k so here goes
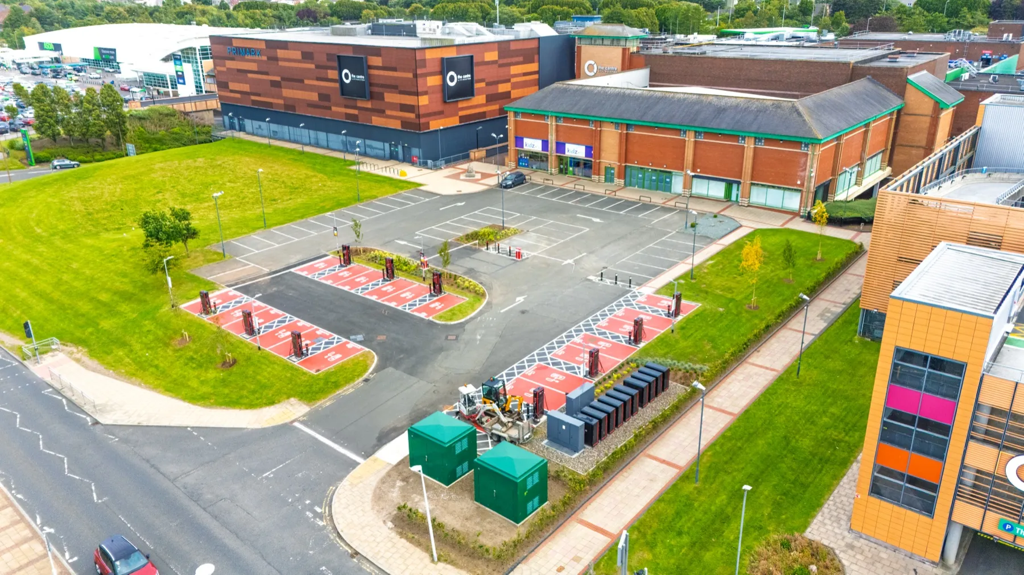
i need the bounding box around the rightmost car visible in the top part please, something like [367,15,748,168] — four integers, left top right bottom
[502,168,532,185]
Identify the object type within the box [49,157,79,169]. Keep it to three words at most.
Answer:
vehicle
